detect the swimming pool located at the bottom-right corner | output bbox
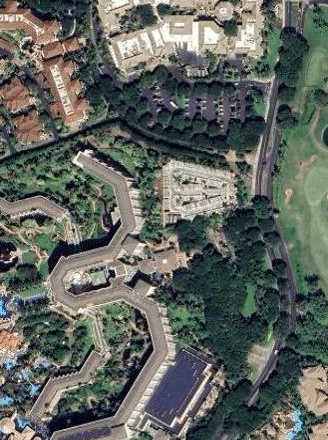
[285,409,303,440]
